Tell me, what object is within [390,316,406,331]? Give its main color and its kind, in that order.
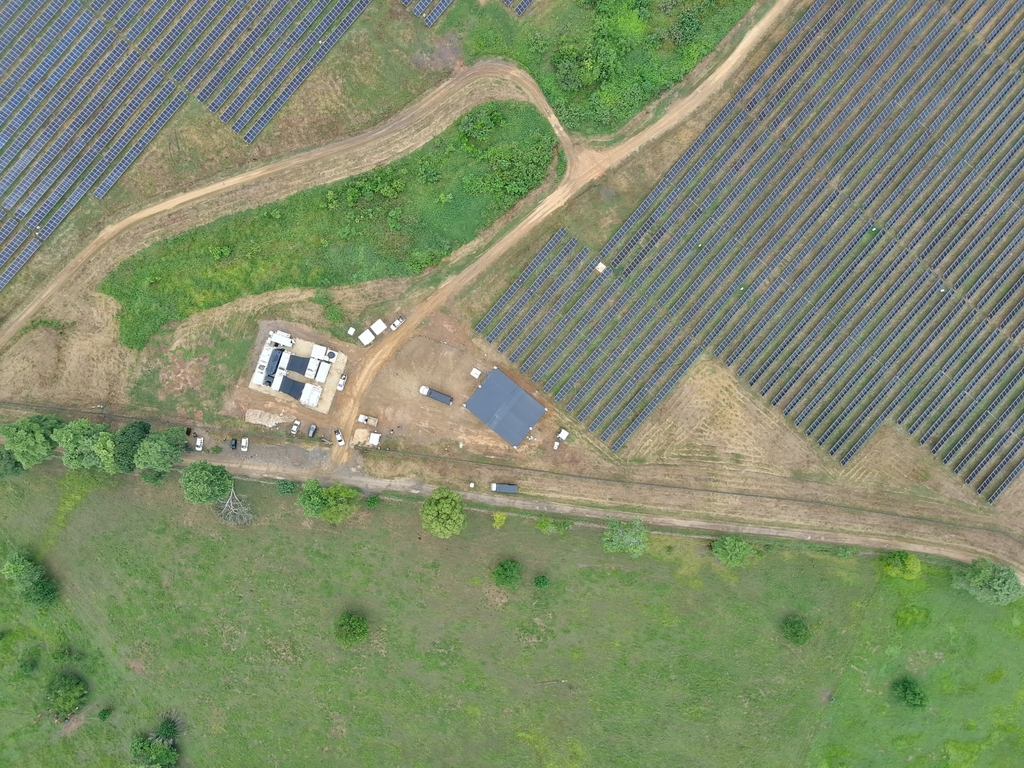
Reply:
white vehicle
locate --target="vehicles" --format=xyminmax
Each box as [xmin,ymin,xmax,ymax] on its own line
[231,438,238,449]
[357,414,379,427]
[334,428,345,446]
[196,437,205,451]
[308,423,317,438]
[390,316,406,331]
[291,419,301,434]
[338,373,348,391]
[241,437,249,451]
[491,482,518,493]
[419,386,454,405]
